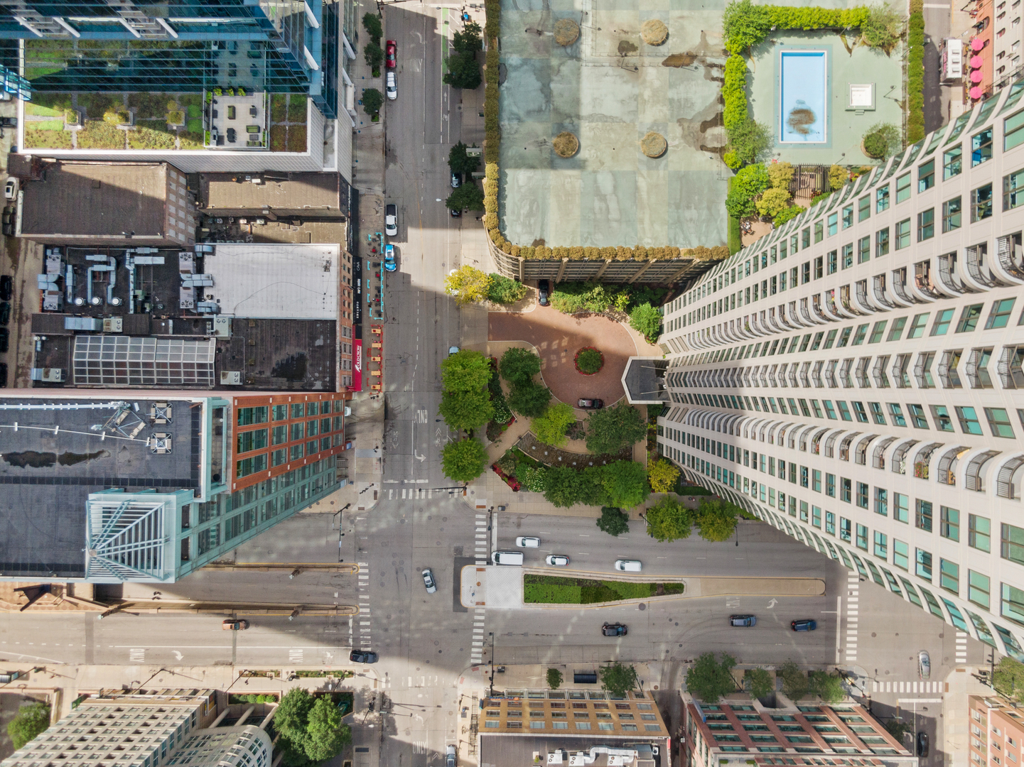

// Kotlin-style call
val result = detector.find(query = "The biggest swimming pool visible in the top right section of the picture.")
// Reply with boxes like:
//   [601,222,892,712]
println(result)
[780,49,828,145]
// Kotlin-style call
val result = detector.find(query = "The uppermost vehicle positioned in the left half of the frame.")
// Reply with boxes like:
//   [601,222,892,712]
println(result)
[385,42,397,70]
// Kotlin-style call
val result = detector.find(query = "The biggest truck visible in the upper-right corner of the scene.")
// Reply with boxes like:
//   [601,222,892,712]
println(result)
[938,37,961,88]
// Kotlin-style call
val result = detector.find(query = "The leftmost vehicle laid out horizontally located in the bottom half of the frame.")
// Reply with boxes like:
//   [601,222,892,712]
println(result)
[224,618,249,630]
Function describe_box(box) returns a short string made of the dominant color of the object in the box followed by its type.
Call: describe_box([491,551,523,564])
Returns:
white vehicle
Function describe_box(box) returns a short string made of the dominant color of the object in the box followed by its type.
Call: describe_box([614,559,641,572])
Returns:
white vehicle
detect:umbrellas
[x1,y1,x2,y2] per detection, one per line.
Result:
[968,71,982,82]
[968,39,982,50]
[969,87,981,98]
[969,56,982,68]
